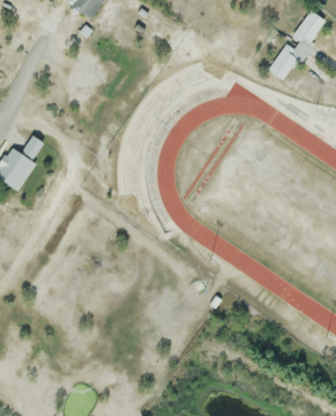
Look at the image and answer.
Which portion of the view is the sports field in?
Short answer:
right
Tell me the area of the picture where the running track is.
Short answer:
right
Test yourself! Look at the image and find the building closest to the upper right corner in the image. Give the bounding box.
[294,12,326,63]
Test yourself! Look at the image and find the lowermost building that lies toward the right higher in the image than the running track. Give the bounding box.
[270,44,298,78]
